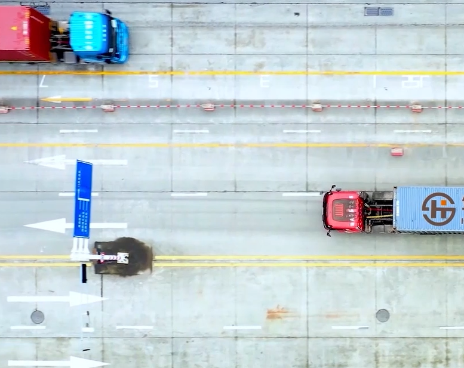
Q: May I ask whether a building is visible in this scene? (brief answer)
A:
No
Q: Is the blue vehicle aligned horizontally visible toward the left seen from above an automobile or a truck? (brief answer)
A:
truck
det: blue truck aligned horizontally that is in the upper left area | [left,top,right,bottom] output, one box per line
[8,4,131,65]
